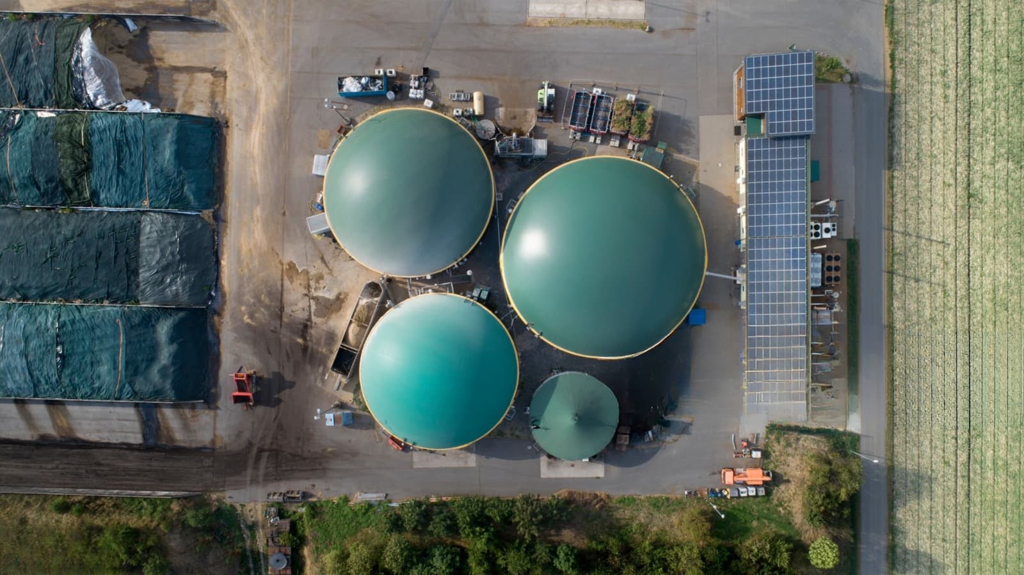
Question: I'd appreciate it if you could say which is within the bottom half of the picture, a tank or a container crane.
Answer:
tank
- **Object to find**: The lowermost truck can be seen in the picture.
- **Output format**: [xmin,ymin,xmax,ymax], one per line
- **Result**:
[716,464,772,485]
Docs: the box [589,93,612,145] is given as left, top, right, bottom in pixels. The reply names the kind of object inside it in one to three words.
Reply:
trailer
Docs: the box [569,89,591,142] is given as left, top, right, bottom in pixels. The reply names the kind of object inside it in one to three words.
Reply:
trailer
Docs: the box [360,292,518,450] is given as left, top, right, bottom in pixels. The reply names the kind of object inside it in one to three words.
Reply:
storage tank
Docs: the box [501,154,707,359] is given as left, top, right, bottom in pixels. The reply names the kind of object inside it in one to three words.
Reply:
storage tank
